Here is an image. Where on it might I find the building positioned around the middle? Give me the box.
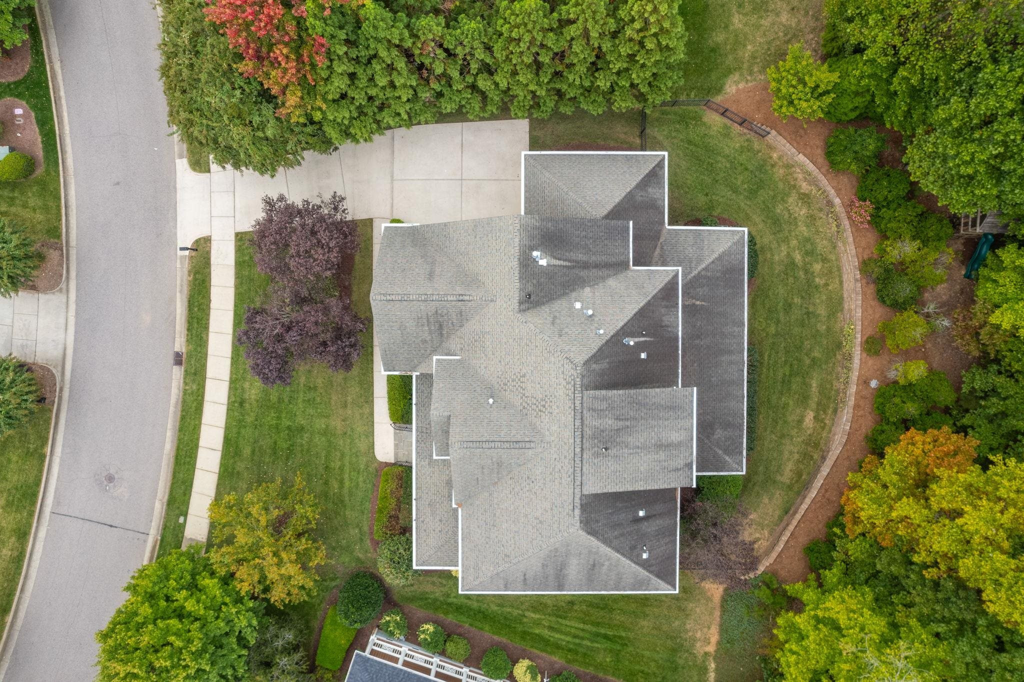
[370,150,750,596]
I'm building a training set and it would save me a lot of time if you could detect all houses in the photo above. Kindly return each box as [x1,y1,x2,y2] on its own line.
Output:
[370,150,750,596]
[344,629,518,682]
